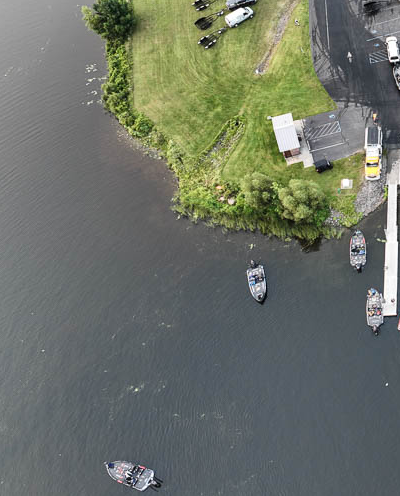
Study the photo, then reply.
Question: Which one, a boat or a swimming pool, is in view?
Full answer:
This aerial view contains a boat.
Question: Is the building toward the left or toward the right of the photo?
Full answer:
The building sits on the right side.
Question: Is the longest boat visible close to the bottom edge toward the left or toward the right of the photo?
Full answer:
The longest boat visible close to the bottom edge appears in the left half of the scene.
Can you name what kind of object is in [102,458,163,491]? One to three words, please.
boat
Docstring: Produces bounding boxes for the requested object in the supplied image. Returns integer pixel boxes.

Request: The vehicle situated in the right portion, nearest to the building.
[311,158,335,173]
